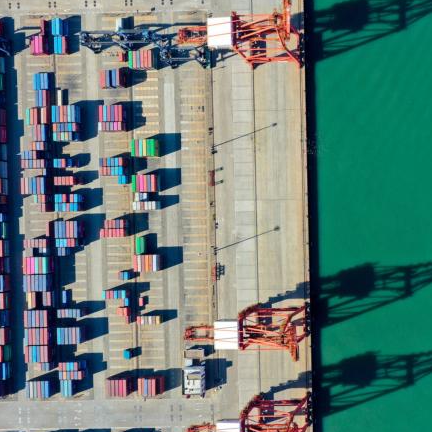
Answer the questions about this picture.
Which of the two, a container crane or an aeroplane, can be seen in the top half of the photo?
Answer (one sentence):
The feature located in the top half of the photo is a container crane.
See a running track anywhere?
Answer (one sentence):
No, there appears to be no running track in this shot.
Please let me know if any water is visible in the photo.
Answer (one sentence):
Yes, some water is visible.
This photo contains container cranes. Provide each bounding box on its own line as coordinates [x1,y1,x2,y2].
[184,297,309,373]
[78,29,169,60]
[178,0,304,78]
[185,386,311,432]
[155,45,219,75]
